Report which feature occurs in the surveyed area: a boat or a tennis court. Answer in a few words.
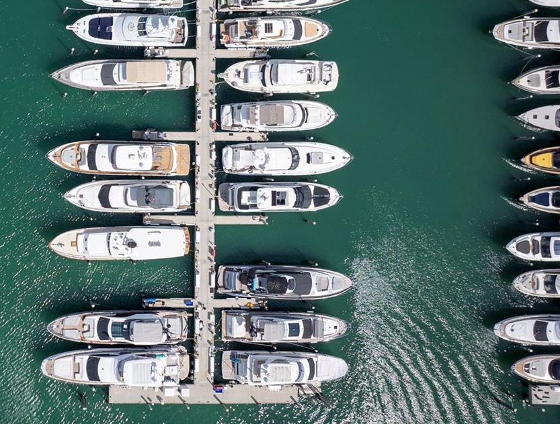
boat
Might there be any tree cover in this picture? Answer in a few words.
No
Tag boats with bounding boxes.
[216,60,337,93]
[85,0,183,8]
[66,12,188,47]
[46,141,189,176]
[219,182,343,213]
[222,347,348,384]
[220,16,330,48]
[517,104,560,130]
[222,142,353,176]
[217,0,346,14]
[222,309,347,342]
[492,16,560,49]
[511,354,560,384]
[519,146,560,174]
[519,186,560,213]
[494,320,560,356]
[515,270,560,301]
[48,309,192,343]
[51,59,194,91]
[527,0,560,7]
[49,226,190,260]
[63,179,190,213]
[216,264,353,298]
[221,102,336,132]
[41,344,189,386]
[504,232,560,261]
[511,67,560,97]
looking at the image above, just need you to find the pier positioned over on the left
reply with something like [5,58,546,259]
[108,0,320,404]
